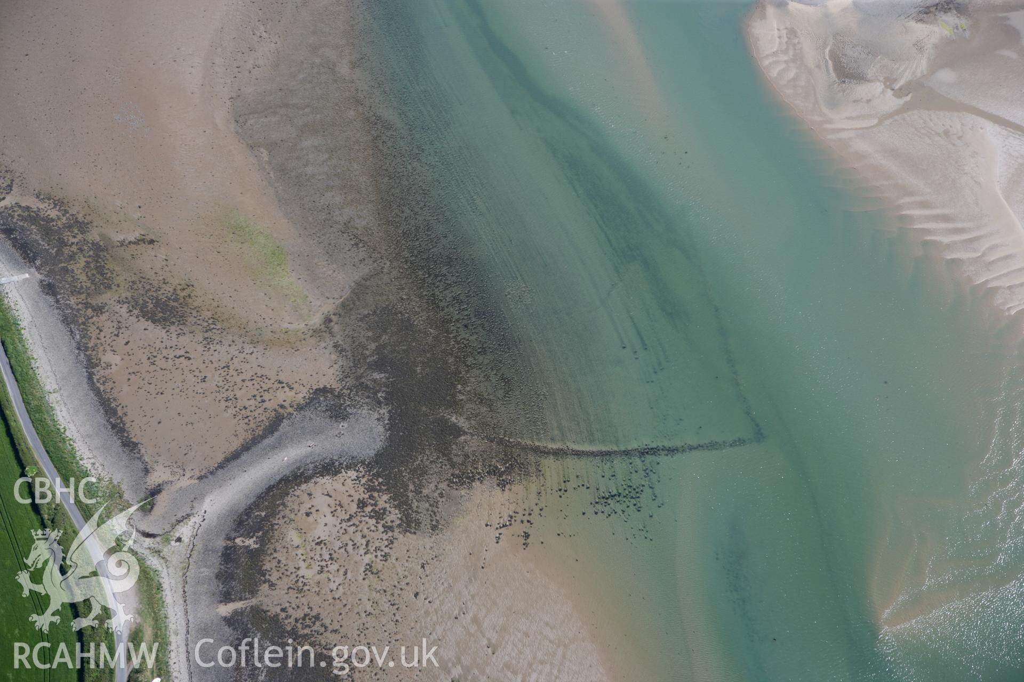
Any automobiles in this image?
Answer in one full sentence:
No, the frame has no automobile in it.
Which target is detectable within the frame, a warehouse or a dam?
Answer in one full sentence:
There is a dam in the scene.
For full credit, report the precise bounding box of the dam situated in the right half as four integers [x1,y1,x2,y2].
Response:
[478,293,762,459]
